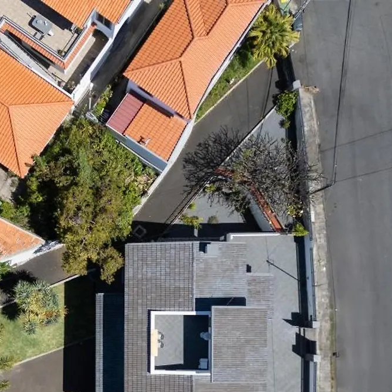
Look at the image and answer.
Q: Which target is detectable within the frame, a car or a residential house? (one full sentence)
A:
It is a residential house that can be seen here.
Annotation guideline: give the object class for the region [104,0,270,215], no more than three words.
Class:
house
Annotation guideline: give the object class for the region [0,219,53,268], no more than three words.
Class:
shed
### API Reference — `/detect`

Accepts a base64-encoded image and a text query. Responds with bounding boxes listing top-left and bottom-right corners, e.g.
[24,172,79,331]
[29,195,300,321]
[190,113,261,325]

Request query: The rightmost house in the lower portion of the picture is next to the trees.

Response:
[96,242,272,392]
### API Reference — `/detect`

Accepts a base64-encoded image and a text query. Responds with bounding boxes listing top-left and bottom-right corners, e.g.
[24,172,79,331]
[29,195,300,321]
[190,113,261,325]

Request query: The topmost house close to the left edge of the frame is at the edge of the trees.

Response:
[0,0,137,111]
